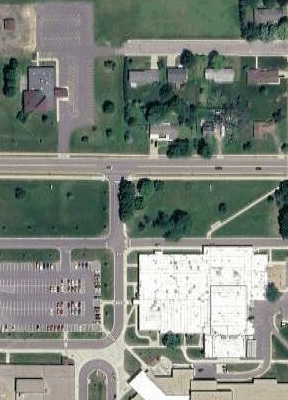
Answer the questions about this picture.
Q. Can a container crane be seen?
No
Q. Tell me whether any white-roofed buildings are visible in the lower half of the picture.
Yes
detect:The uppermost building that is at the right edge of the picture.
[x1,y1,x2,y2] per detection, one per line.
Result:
[251,8,285,23]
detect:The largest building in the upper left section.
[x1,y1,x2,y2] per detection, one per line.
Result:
[24,66,69,113]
